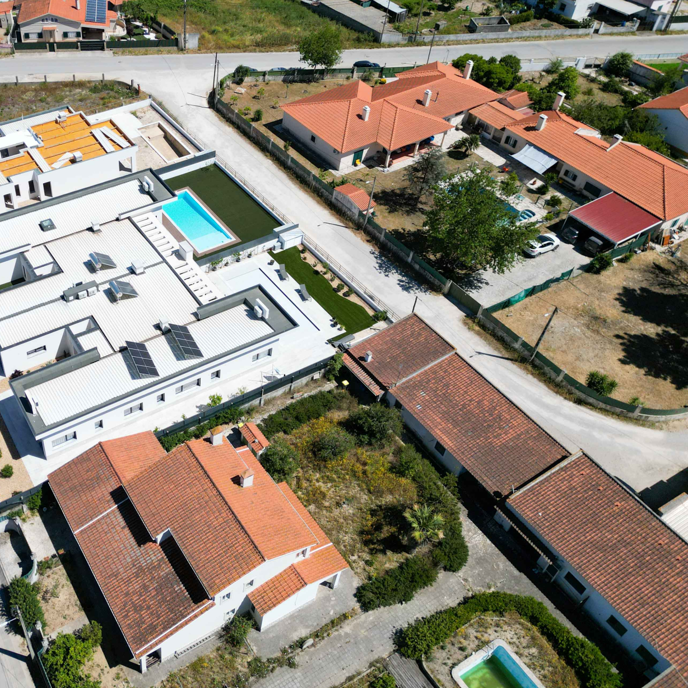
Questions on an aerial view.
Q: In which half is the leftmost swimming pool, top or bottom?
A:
top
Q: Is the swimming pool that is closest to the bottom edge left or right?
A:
right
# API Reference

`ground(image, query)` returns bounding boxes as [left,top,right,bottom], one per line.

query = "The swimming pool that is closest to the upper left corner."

[137,123,190,161]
